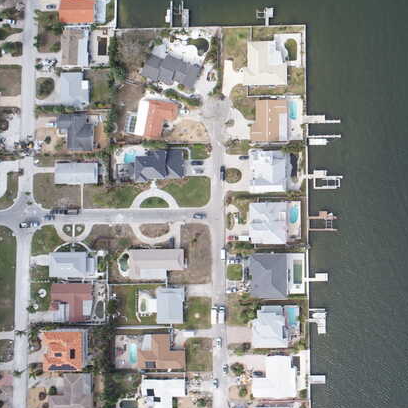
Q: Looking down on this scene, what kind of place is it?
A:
residential area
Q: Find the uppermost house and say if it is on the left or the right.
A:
left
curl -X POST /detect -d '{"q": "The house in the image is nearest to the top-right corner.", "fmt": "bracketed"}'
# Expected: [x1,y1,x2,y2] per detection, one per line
[245,40,287,85]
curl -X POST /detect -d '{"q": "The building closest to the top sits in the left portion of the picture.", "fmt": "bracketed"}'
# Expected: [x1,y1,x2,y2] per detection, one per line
[58,0,108,24]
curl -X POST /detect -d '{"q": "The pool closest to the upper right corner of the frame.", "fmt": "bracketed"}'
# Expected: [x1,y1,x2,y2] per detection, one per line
[284,38,298,62]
